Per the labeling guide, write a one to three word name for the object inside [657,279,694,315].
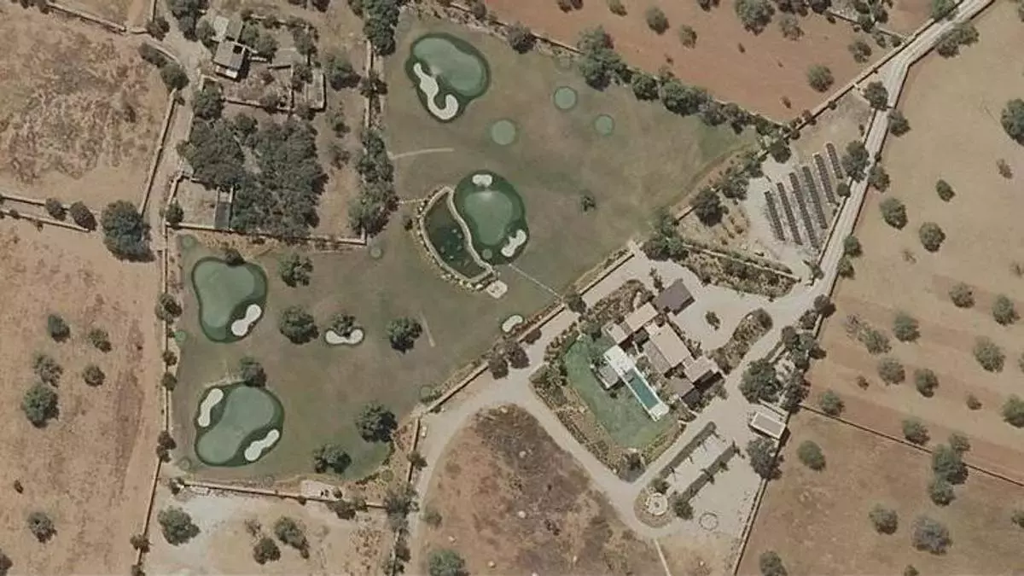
building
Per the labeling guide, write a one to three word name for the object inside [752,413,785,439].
shed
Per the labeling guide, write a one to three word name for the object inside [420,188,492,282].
pond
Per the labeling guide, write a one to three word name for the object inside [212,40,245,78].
house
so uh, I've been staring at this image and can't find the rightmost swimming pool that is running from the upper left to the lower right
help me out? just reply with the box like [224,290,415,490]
[607,345,670,421]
